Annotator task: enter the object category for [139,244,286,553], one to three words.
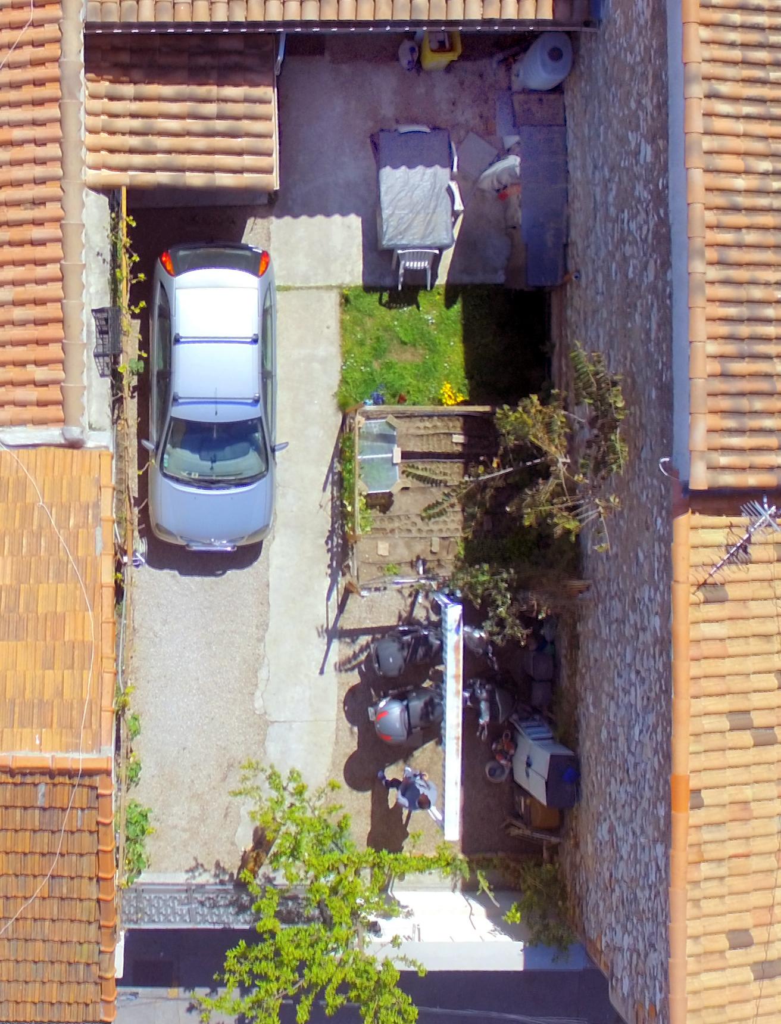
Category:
car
